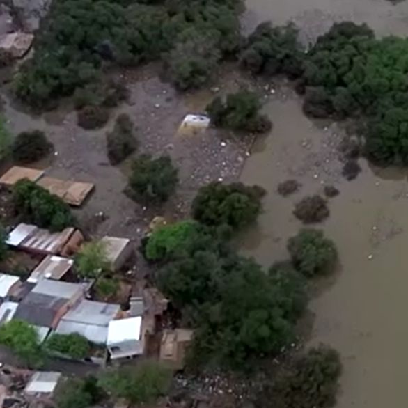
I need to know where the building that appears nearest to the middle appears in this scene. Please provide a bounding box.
[100,237,134,274]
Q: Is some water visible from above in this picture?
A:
Yes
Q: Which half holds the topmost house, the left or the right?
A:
left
